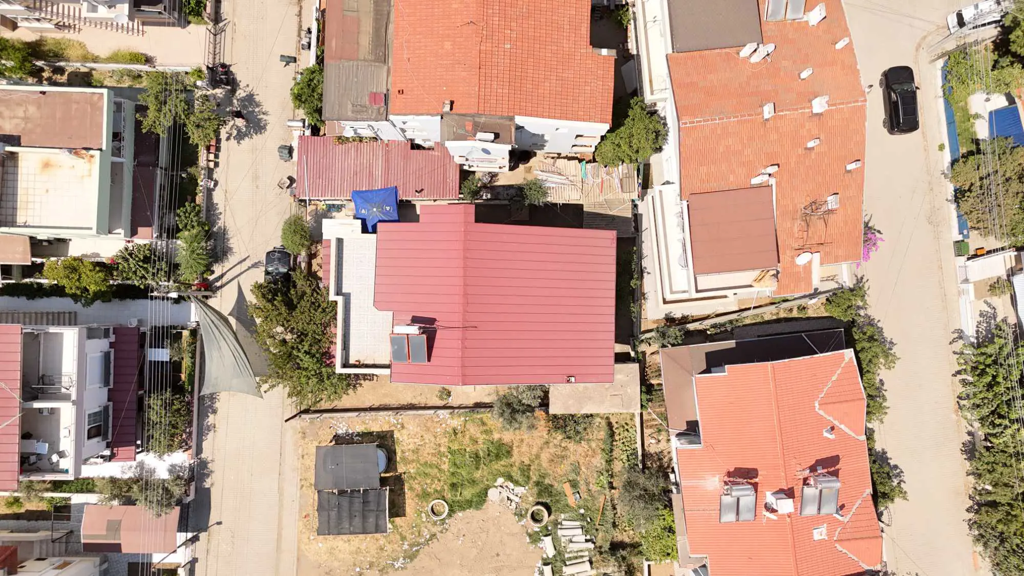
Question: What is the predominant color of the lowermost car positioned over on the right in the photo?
black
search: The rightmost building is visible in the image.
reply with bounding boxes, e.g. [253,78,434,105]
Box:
[948,250,1017,284]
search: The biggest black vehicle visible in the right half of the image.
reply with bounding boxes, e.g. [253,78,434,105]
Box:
[876,69,918,138]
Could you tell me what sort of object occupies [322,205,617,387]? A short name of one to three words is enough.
house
